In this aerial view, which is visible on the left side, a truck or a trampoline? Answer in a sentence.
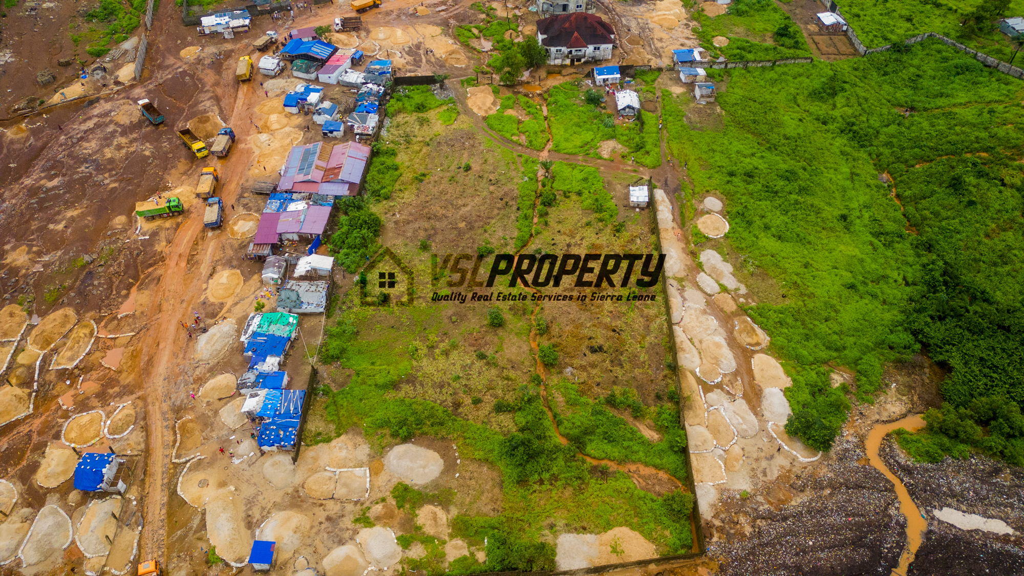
It is a truck that can be seen on the left side.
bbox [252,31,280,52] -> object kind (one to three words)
truck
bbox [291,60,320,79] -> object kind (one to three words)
shed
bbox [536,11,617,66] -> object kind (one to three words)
house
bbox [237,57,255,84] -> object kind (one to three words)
vehicle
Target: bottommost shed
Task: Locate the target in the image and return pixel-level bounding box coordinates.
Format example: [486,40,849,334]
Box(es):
[249,541,278,571]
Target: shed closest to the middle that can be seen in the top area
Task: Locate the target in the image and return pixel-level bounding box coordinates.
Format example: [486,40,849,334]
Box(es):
[629,186,648,209]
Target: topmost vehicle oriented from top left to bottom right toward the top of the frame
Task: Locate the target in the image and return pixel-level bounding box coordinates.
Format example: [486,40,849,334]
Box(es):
[136,99,167,129]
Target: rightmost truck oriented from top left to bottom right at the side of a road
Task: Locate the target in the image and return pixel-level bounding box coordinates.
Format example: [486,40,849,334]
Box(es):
[177,131,210,163]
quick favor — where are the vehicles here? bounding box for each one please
[204,198,226,232]
[137,558,169,576]
[177,131,210,163]
[135,198,186,220]
[352,0,385,15]
[335,17,362,31]
[136,99,167,129]
[196,168,219,201]
[237,57,255,84]
[252,31,280,52]
[211,131,235,160]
